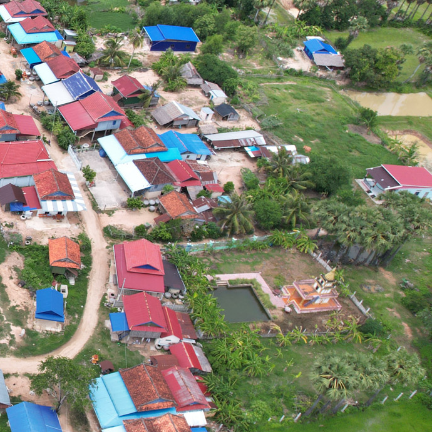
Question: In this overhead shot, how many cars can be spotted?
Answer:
zero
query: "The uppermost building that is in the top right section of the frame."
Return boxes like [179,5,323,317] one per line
[297,36,344,76]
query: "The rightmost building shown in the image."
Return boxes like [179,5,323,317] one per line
[358,164,432,203]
